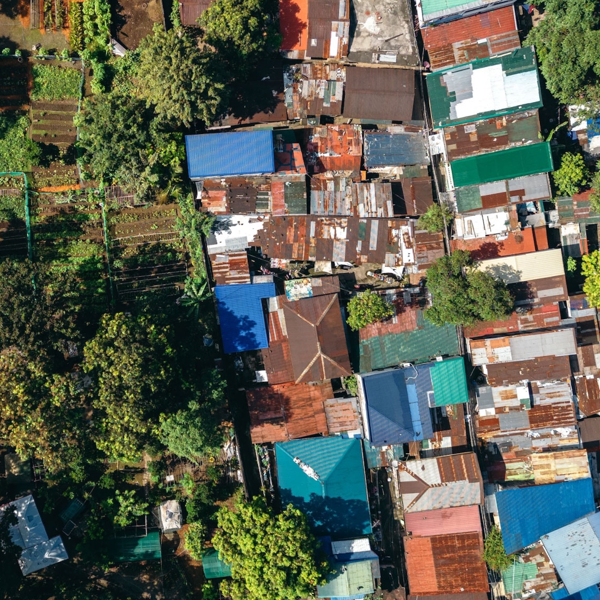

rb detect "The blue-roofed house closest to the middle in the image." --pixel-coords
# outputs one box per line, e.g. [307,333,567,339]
[215,283,275,353]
